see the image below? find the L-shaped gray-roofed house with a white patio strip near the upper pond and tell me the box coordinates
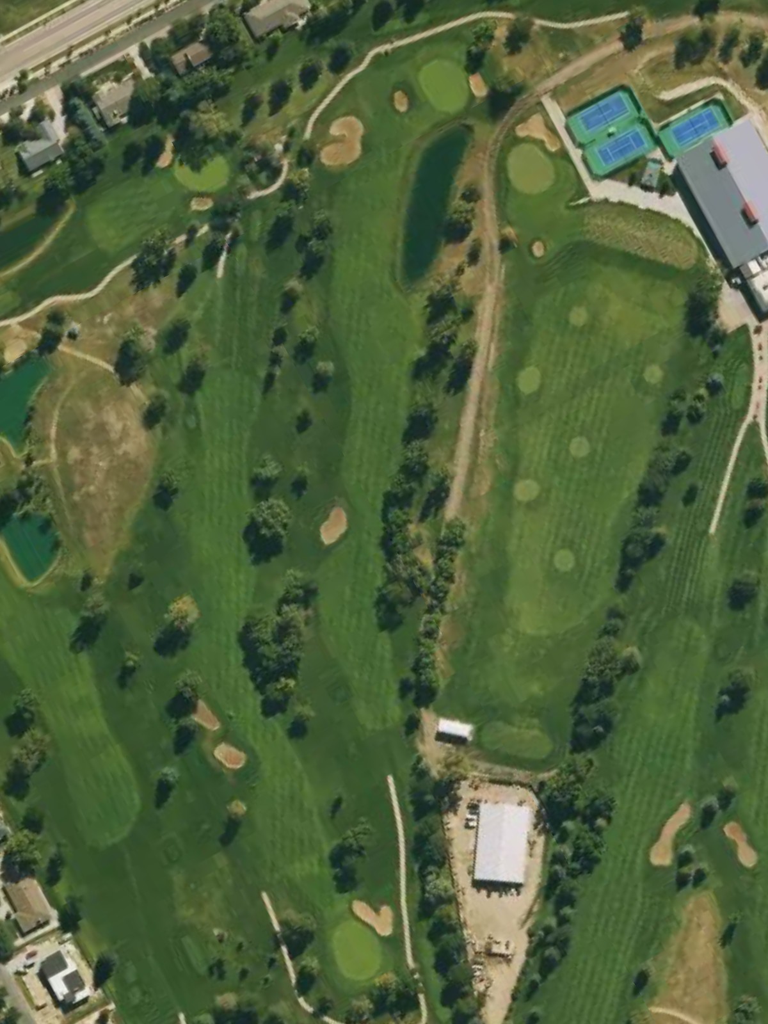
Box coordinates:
[18,117,63,171]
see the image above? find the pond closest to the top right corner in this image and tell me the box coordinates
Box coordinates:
[401,123,474,287]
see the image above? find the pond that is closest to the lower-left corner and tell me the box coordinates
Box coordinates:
[0,512,61,581]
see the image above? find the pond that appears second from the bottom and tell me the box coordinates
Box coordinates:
[0,354,50,453]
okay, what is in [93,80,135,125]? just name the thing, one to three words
house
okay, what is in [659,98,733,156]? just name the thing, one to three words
tennis court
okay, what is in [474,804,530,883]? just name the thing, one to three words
building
